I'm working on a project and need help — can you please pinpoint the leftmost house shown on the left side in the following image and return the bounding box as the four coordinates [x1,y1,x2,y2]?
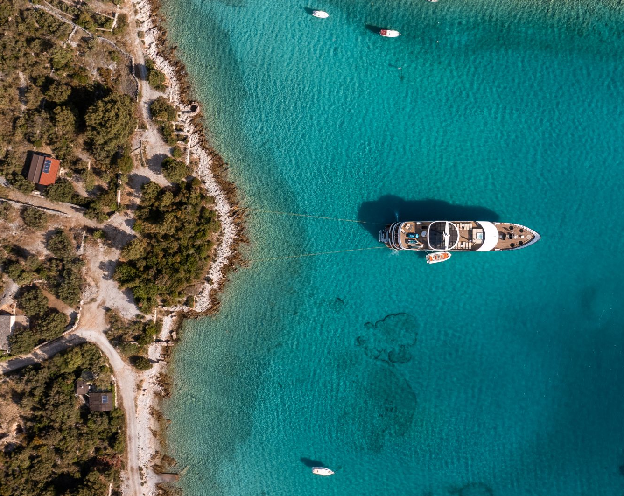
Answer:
[0,315,15,350]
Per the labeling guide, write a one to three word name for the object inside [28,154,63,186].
house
